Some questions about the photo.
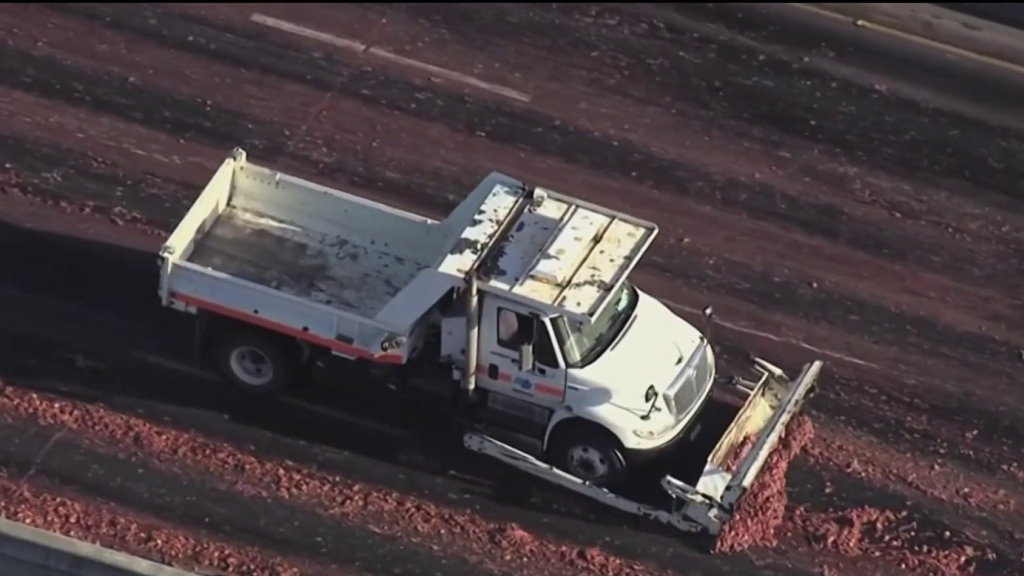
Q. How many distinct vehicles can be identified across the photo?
one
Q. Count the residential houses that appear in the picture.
0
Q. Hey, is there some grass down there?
No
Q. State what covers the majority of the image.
paved ground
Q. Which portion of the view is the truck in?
center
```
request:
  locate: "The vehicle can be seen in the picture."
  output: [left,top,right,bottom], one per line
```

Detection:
[156,146,832,547]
